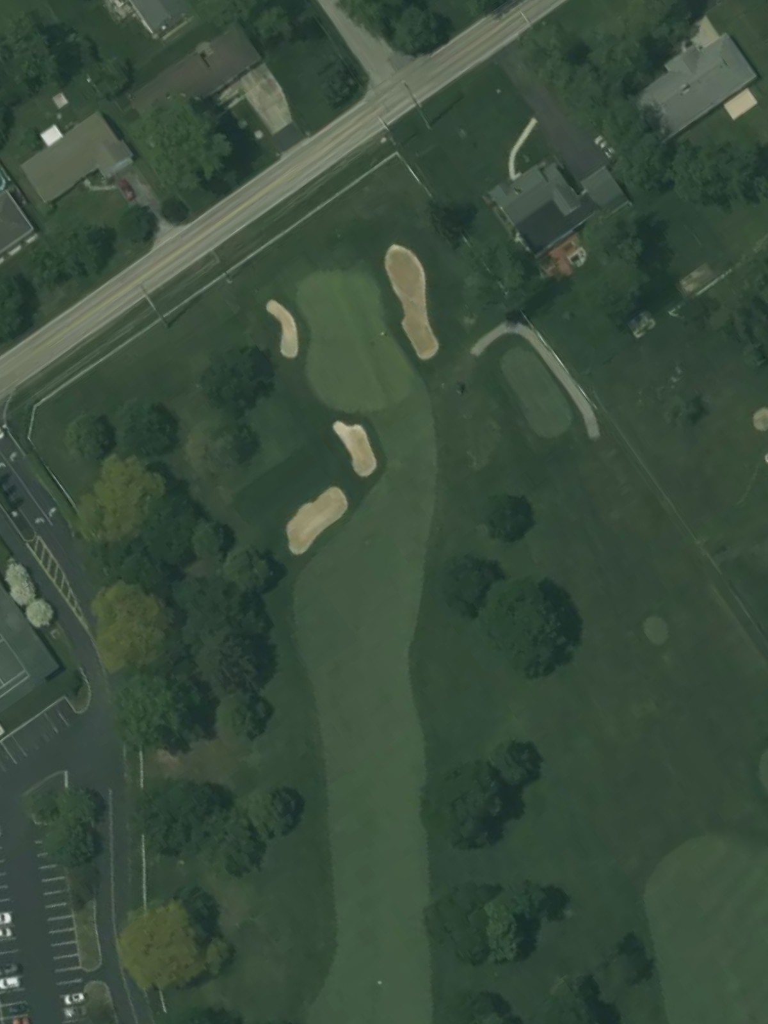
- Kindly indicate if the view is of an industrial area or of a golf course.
golf course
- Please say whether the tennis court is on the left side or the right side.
left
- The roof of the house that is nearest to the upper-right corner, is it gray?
Yes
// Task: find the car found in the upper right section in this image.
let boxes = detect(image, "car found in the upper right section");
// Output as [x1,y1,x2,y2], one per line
[595,136,612,156]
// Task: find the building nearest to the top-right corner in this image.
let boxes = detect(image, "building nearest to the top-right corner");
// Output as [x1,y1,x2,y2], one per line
[635,32,758,136]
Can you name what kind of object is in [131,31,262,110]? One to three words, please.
house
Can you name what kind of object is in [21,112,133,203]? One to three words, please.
house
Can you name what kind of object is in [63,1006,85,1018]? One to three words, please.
vehicle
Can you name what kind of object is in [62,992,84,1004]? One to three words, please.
vehicle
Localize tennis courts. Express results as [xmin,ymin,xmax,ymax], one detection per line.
[0,591,62,715]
